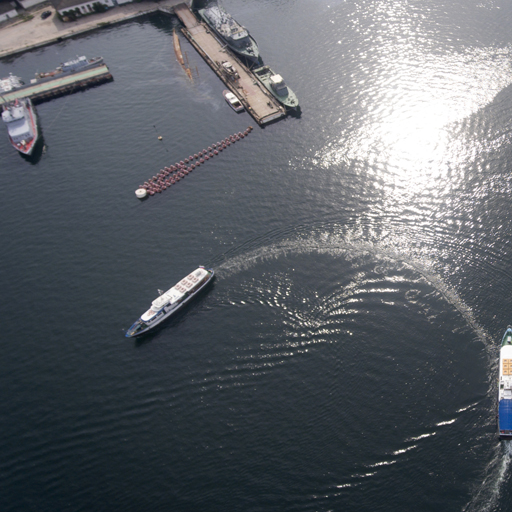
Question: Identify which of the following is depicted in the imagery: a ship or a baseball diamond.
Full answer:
The one in the frame is a ship.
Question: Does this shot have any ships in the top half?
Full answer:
Yes, in the top half there is a ship.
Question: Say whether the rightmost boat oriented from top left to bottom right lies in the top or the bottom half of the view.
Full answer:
The rightmost boat oriented from top left to bottom right sits in the top half of the picture.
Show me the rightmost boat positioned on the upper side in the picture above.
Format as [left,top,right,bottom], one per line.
[253,68,297,108]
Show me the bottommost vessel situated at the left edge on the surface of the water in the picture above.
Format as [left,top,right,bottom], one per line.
[1,95,37,155]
